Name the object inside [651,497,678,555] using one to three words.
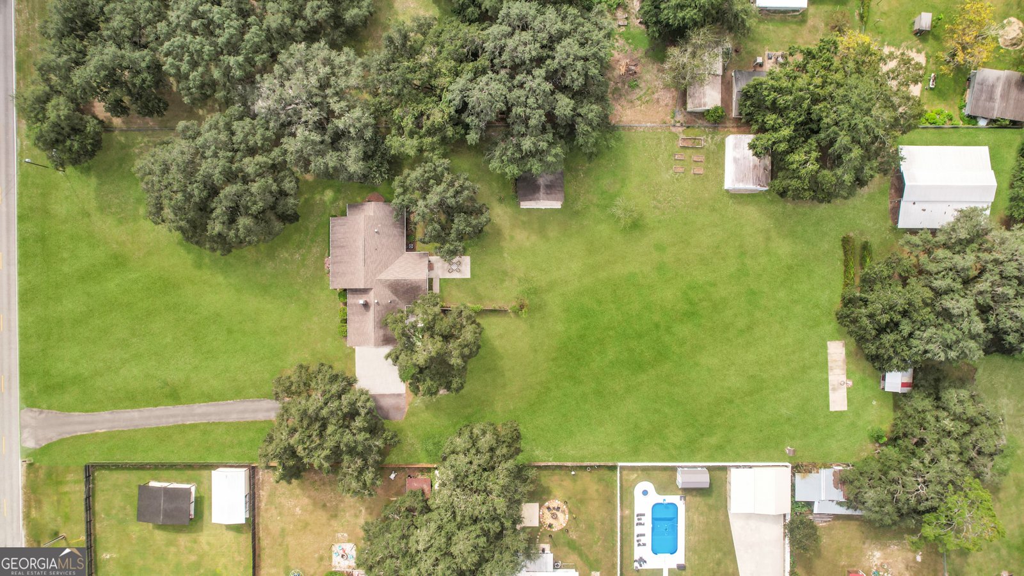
swimming pool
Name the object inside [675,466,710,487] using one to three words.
shed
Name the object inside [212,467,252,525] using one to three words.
building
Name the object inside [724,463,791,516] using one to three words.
building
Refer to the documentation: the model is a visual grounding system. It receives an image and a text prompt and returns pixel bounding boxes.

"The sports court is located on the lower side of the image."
[828,341,847,411]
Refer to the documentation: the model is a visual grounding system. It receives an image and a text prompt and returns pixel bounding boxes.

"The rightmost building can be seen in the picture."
[965,68,1024,124]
